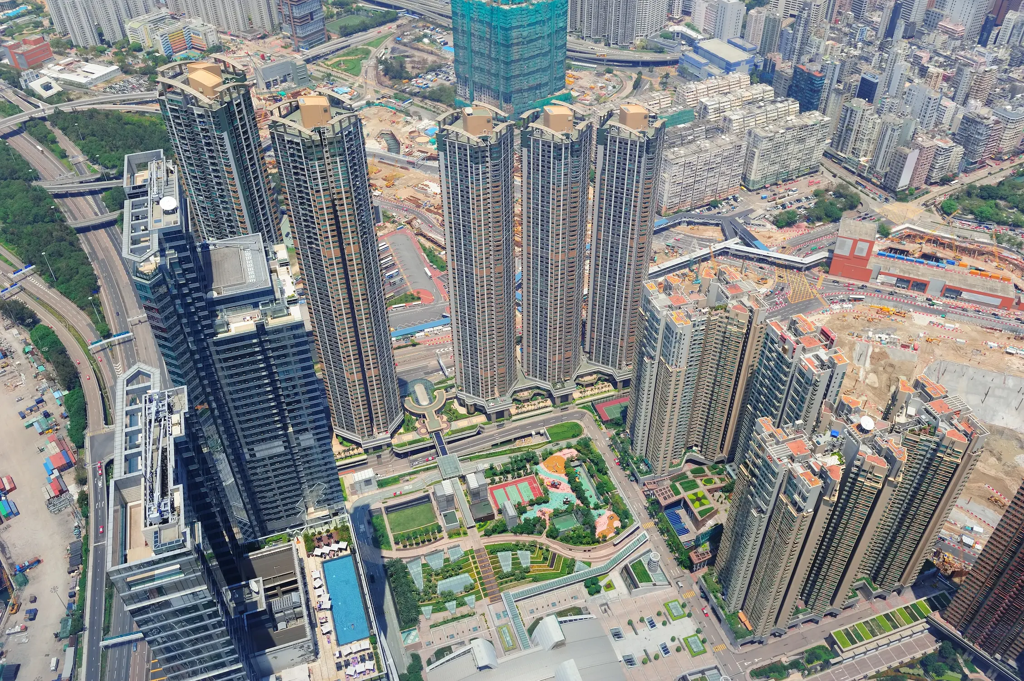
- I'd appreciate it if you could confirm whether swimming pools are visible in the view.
Yes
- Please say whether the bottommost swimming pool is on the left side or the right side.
left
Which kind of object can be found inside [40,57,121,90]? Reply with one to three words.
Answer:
shed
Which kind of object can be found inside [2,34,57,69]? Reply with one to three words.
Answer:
building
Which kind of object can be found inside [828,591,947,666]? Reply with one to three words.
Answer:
building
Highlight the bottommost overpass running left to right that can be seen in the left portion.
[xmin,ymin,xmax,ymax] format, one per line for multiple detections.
[62,206,135,233]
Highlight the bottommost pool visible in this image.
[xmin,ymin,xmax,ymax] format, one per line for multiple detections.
[323,556,369,645]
